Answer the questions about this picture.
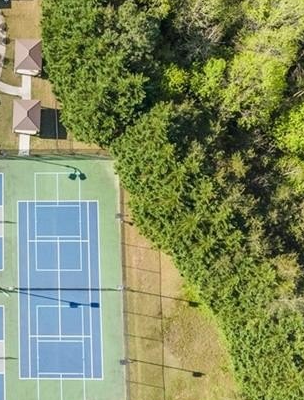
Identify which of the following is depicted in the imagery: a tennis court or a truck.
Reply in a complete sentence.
It is a tennis court that can be seen here.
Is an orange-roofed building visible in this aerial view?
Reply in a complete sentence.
No, there's no orange-roofed building here.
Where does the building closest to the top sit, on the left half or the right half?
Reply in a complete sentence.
The building closest to the top sits on the left side.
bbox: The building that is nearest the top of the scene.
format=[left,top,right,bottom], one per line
[15,41,41,78]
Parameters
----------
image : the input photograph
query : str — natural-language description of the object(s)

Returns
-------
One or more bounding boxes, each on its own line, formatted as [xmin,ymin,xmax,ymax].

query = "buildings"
[15,41,41,78]
[13,100,40,134]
